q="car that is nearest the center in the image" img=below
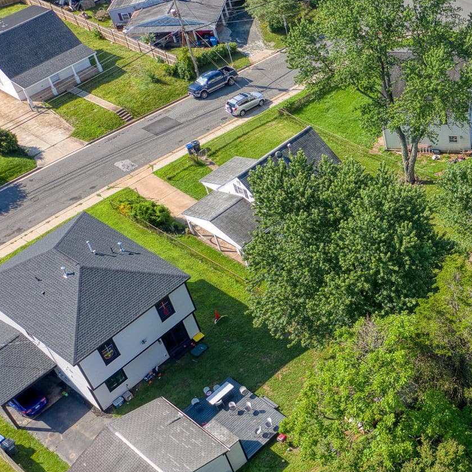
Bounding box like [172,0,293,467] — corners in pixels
[222,89,267,117]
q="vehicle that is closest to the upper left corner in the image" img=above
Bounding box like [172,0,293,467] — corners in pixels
[184,64,238,98]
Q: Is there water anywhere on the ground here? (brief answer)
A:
No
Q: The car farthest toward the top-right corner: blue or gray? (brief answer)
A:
gray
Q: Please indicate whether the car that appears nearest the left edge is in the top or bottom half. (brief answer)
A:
bottom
